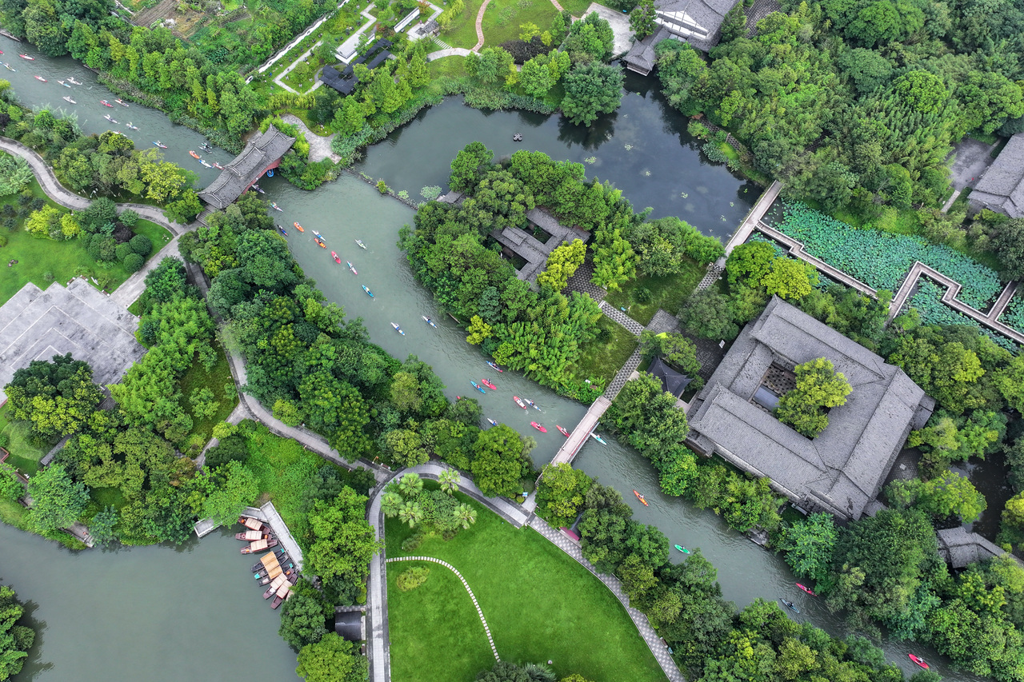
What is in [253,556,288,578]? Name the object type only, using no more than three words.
boat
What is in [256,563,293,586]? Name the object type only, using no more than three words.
boat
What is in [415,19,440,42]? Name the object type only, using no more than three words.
shed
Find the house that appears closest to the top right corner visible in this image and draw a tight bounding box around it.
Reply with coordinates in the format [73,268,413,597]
[965,128,1024,224]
